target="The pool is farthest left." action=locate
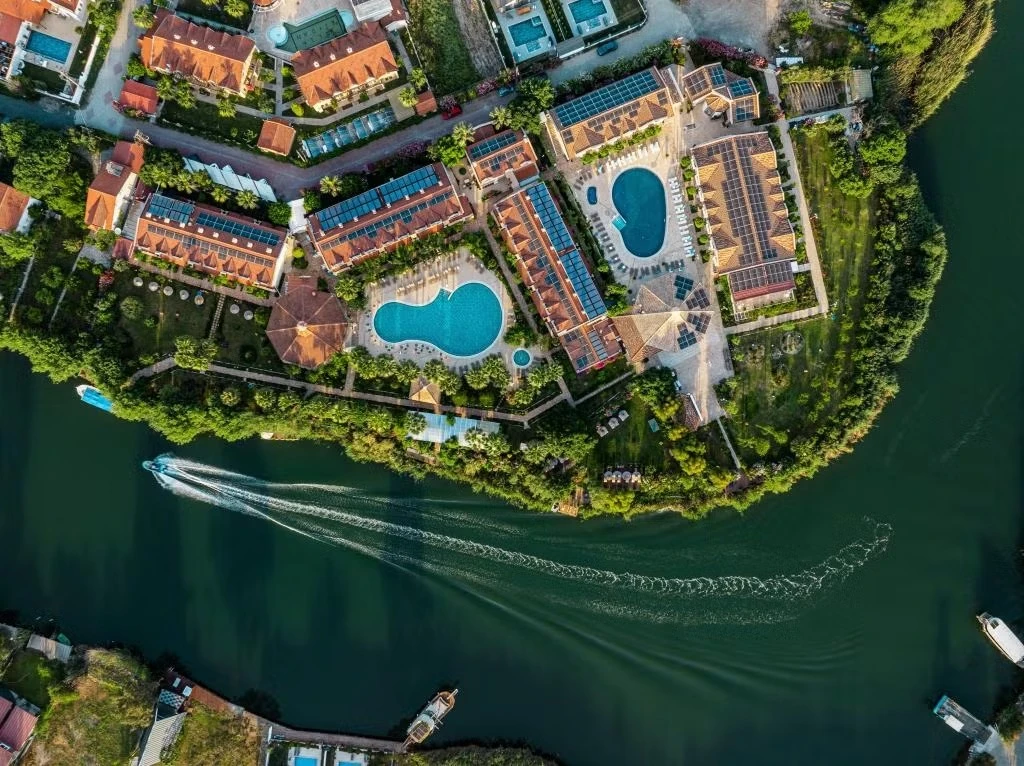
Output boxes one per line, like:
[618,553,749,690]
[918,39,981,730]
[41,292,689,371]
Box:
[27,30,73,65]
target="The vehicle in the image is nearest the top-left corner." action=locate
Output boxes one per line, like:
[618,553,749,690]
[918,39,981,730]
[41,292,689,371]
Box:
[186,146,200,163]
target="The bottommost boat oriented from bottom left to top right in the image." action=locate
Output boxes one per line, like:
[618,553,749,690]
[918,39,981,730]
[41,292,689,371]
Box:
[406,690,456,755]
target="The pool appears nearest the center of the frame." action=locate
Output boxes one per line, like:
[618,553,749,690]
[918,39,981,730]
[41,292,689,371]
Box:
[511,347,532,368]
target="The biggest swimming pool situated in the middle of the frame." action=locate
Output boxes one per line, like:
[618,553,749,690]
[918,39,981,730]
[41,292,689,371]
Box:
[372,279,505,358]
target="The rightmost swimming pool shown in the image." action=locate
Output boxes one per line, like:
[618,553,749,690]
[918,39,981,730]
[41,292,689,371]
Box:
[610,166,668,258]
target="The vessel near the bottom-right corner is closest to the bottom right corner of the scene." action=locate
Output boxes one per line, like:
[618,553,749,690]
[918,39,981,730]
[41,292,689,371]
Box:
[930,691,996,751]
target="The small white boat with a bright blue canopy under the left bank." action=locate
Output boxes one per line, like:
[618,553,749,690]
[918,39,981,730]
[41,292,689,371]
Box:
[77,387,115,413]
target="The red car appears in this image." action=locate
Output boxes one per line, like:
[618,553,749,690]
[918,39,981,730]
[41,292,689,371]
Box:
[441,103,462,118]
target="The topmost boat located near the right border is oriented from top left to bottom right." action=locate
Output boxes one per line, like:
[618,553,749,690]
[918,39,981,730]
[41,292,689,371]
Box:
[981,612,1024,671]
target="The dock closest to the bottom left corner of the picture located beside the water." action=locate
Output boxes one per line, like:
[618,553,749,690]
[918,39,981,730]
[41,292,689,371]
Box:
[27,634,73,662]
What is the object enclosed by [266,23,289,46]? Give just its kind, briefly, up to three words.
swimming pool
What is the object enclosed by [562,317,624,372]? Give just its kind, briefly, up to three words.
house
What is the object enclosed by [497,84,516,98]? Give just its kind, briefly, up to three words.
car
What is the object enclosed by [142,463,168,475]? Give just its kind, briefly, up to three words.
boat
